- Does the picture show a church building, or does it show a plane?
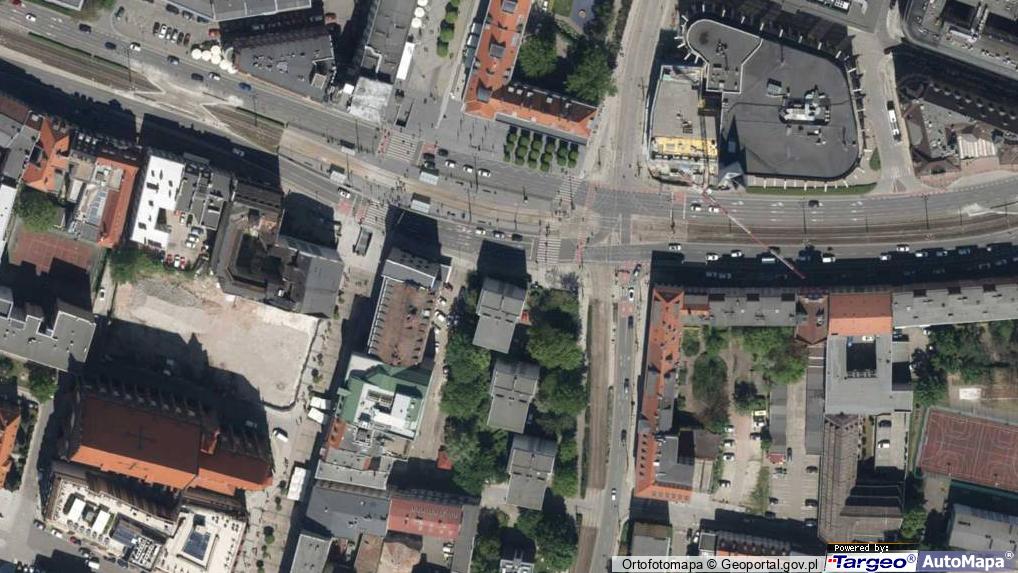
church building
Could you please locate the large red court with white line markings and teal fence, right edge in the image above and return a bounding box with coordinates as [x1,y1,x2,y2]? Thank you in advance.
[919,408,1018,493]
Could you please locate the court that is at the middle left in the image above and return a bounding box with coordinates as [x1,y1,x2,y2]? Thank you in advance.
[5,230,98,308]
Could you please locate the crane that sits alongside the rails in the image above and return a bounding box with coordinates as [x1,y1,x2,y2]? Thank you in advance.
[671,156,802,277]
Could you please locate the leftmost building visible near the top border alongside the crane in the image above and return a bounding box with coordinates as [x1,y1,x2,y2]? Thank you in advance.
[460,0,597,145]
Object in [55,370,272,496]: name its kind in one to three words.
church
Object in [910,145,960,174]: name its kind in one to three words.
house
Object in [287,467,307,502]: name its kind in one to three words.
tent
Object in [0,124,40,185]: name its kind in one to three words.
building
